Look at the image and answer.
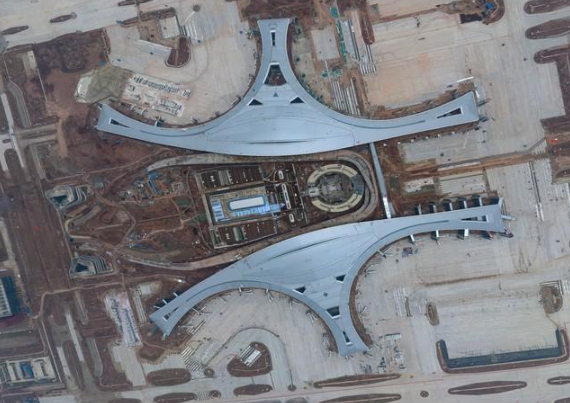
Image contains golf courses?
No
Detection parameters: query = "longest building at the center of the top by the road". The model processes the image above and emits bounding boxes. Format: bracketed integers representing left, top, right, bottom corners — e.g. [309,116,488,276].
[96,17,479,156]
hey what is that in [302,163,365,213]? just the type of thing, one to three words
building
